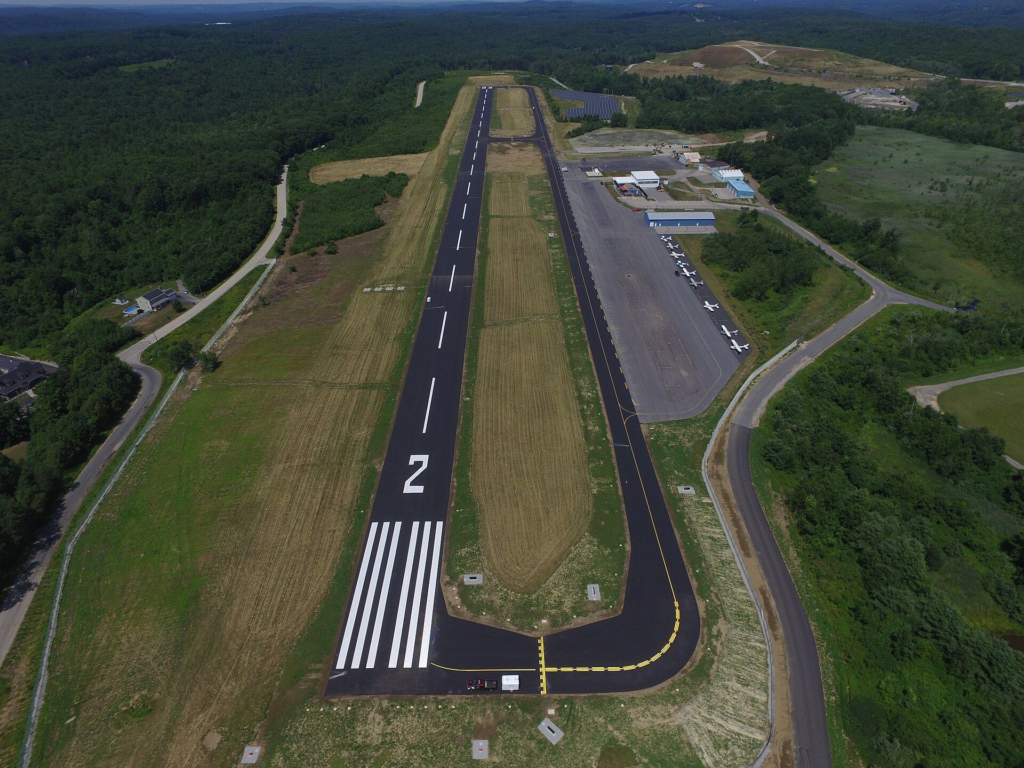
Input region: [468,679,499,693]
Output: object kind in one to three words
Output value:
vehicle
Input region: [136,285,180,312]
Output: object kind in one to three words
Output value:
house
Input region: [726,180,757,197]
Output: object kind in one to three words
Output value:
hangar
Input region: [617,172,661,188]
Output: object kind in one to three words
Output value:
building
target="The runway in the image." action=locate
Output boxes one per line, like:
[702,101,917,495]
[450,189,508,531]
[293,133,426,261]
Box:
[326,87,494,695]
